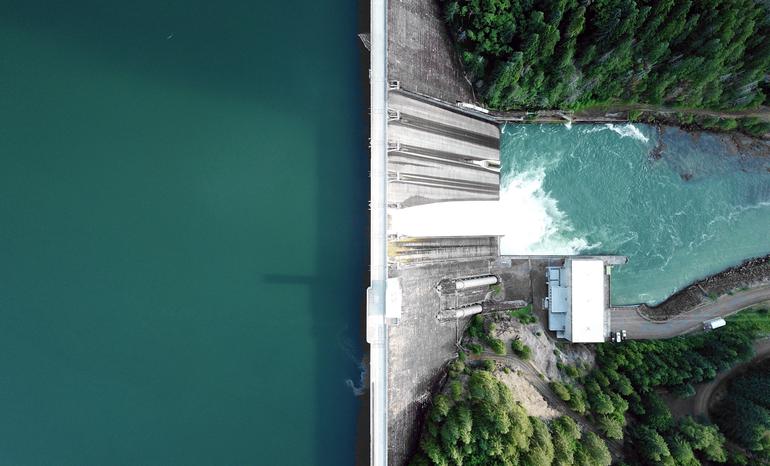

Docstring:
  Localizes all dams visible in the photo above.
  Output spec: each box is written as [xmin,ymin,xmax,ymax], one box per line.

[358,0,528,466]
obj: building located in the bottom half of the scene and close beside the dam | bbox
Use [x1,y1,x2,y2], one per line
[544,259,613,343]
